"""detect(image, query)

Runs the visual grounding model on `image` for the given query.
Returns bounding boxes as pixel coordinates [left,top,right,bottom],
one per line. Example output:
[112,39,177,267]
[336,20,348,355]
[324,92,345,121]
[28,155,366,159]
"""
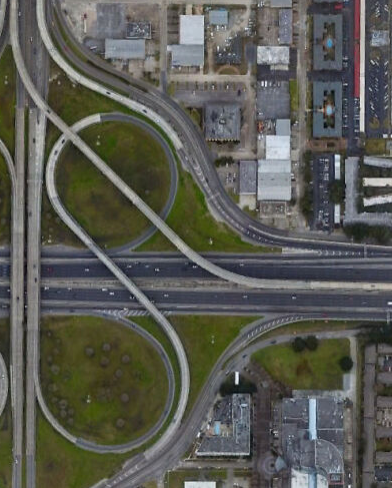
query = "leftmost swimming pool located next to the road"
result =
[205,422,232,437]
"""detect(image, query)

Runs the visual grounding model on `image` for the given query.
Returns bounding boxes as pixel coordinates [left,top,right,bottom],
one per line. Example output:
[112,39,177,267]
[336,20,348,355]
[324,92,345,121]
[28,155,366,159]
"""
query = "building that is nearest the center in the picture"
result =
[239,161,256,194]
